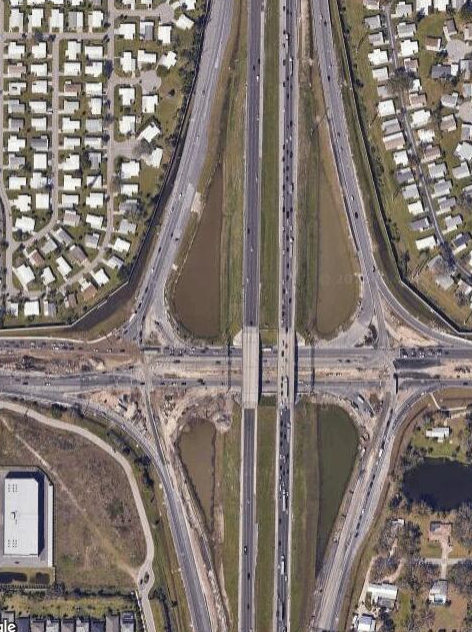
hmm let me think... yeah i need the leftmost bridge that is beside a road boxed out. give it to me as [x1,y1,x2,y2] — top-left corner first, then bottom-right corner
[241,326,259,409]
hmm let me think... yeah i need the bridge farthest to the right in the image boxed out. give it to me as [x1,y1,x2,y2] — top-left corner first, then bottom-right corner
[276,326,295,409]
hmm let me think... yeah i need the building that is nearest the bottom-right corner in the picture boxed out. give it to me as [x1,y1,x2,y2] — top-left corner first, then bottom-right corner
[429,580,448,604]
